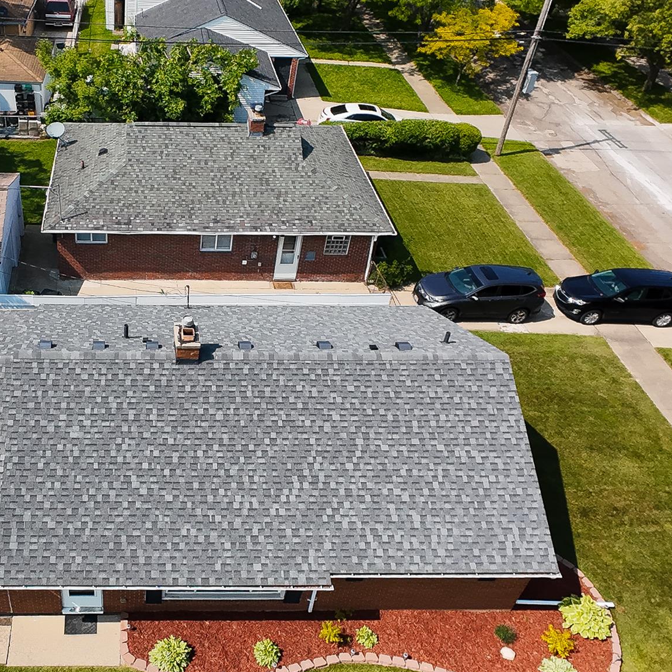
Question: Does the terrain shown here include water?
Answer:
No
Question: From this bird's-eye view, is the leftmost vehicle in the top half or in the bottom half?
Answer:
top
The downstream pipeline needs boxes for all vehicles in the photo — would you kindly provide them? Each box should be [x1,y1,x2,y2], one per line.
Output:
[320,105,410,138]
[553,265,672,324]
[416,262,550,321]
[47,0,75,22]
